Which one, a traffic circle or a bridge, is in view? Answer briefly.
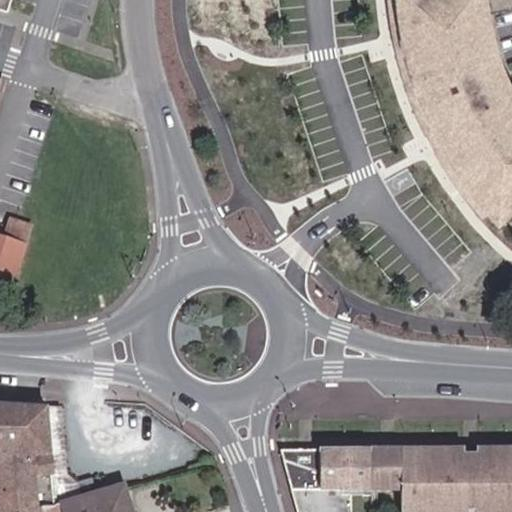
traffic circle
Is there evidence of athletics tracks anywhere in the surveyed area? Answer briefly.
No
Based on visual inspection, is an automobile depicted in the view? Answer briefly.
Yes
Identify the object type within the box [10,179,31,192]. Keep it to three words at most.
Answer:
vehicle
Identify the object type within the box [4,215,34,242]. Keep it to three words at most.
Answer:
shed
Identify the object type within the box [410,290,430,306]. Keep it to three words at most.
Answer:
car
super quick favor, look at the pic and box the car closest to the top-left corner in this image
[30,100,52,114]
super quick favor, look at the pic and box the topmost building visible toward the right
[388,0,512,230]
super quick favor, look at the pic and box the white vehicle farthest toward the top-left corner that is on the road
[28,128,47,140]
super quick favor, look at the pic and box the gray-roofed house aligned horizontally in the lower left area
[57,481,132,512]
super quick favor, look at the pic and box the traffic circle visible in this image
[134,250,304,420]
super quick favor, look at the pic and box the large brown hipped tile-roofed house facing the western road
[0,403,54,512]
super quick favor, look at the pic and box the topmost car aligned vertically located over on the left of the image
[162,107,174,128]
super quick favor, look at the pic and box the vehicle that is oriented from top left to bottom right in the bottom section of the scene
[178,392,199,412]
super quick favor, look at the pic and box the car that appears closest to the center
[308,220,328,238]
